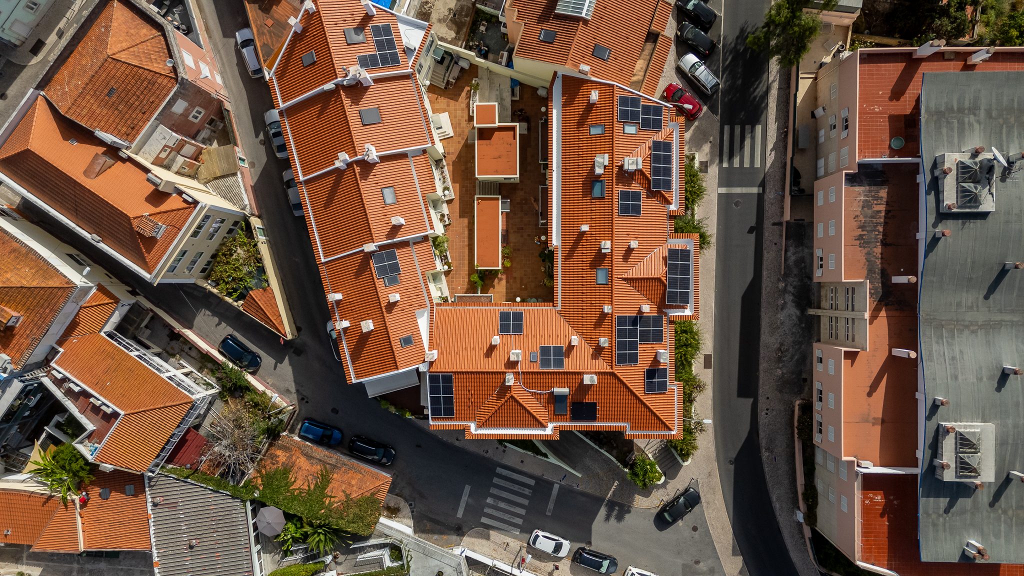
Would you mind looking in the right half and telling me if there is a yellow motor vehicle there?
No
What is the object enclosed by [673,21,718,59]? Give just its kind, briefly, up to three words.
car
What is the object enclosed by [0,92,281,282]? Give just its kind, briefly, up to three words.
house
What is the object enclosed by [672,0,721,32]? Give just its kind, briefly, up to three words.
car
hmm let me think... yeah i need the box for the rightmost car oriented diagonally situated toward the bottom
[653,486,702,530]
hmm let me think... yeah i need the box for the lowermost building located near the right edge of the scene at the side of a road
[808,40,1024,576]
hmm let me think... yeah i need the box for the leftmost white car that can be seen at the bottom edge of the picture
[528,528,570,558]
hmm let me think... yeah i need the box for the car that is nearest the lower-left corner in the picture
[217,334,264,370]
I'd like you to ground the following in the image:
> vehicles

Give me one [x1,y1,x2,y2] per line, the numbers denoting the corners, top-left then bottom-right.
[528,528,570,558]
[324,320,342,365]
[217,334,264,370]
[653,486,702,530]
[571,544,617,575]
[299,419,345,446]
[673,21,718,59]
[674,53,723,98]
[262,110,290,160]
[617,560,664,576]
[659,82,705,125]
[672,0,721,32]
[237,29,267,78]
[281,170,305,217]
